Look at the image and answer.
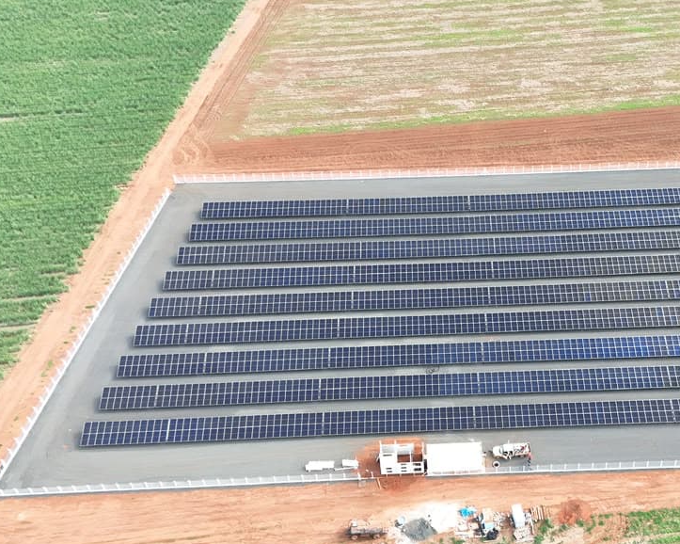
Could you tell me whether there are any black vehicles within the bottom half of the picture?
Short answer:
No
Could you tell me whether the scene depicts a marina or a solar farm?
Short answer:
solar farm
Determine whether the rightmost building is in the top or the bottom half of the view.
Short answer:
bottom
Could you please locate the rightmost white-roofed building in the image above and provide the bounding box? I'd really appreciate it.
[426,440,484,473]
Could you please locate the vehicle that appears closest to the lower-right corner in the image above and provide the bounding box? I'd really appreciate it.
[511,509,528,537]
